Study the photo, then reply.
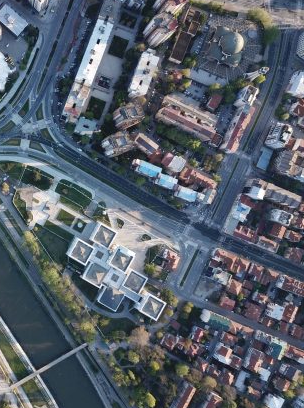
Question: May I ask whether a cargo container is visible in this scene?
No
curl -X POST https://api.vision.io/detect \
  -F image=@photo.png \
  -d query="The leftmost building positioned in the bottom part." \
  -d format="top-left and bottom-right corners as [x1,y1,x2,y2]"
[67,237,94,266]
